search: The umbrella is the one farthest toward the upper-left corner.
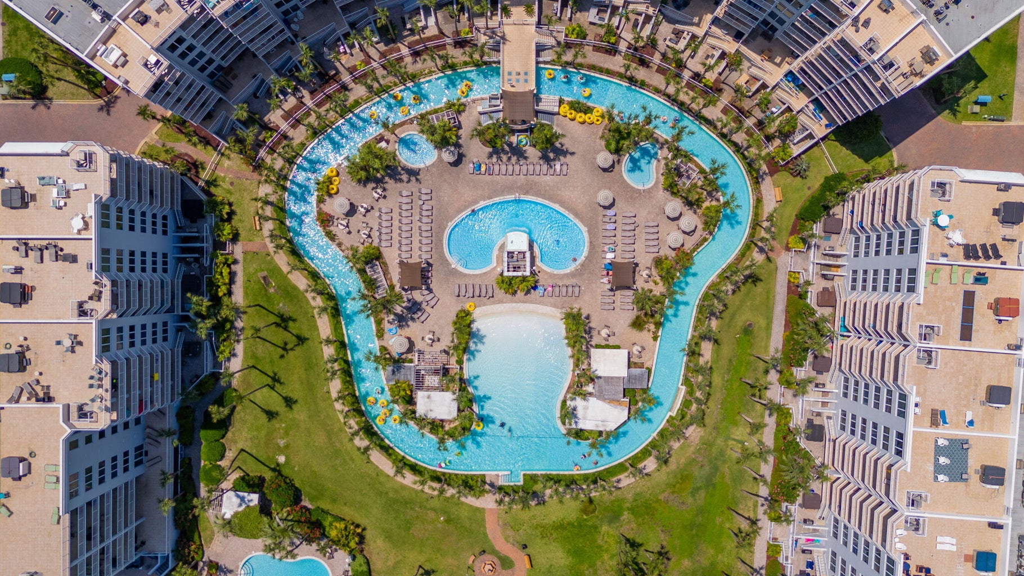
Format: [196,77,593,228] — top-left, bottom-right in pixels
[333,197,350,214]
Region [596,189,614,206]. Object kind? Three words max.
umbrella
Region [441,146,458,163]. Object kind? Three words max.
umbrella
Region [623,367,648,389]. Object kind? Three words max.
shed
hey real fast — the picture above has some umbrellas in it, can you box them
[596,189,614,206]
[664,201,681,218]
[596,151,613,169]
[333,197,350,214]
[392,335,410,353]
[666,231,684,249]
[441,146,458,163]
[678,215,696,233]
